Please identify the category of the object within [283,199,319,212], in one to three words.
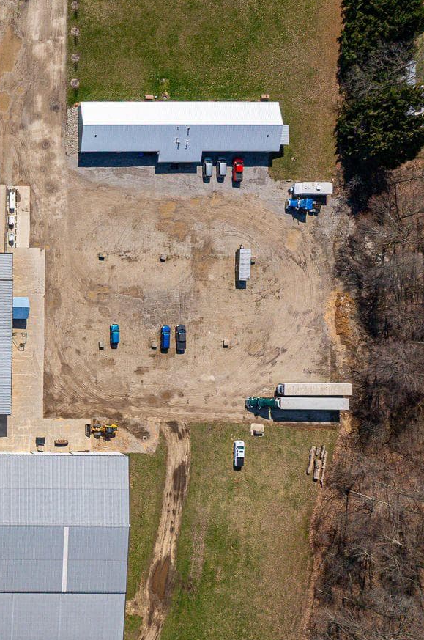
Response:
vehicle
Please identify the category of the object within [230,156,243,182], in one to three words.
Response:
vehicle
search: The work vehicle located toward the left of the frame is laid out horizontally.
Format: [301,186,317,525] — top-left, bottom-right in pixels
[83,425,119,438]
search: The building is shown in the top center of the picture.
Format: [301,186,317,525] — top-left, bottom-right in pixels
[77,101,287,164]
